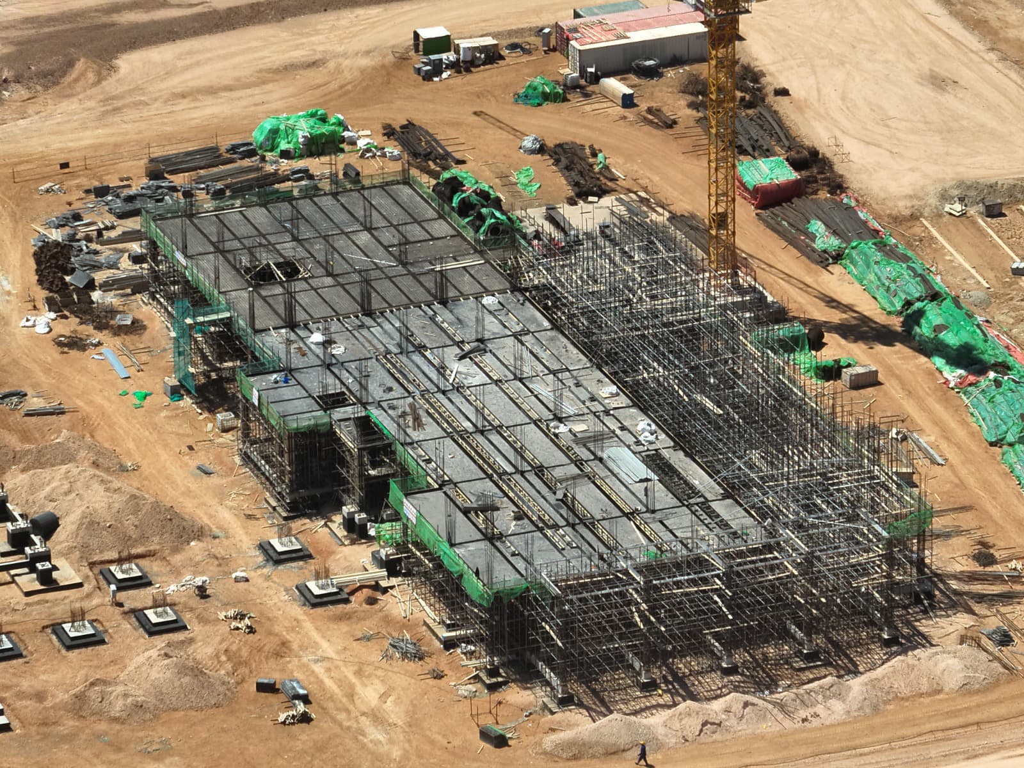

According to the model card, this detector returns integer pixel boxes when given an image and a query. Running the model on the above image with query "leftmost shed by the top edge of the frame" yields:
[412,26,452,56]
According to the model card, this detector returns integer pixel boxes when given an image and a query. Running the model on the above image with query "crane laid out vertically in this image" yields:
[686,0,765,296]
